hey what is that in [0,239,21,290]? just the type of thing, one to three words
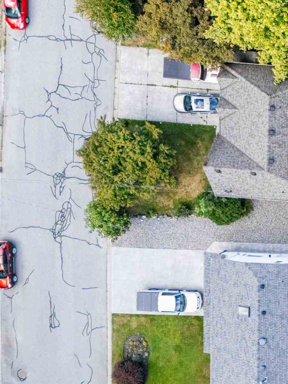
car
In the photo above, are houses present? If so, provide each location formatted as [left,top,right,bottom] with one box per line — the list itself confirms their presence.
[203,61,288,201]
[204,250,288,384]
